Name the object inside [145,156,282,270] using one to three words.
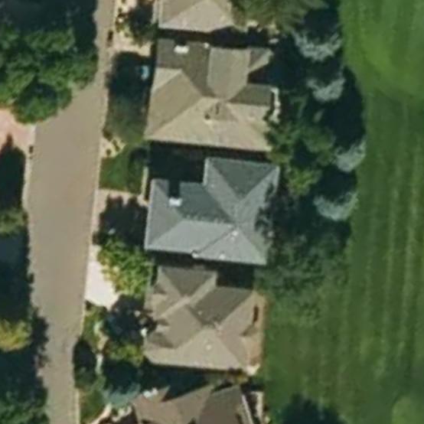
house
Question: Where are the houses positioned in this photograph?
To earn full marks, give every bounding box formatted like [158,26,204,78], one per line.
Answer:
[145,156,282,270]
[134,388,248,424]
[142,268,263,374]
[142,38,276,152]
[149,0,240,30]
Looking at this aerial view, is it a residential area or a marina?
residential area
